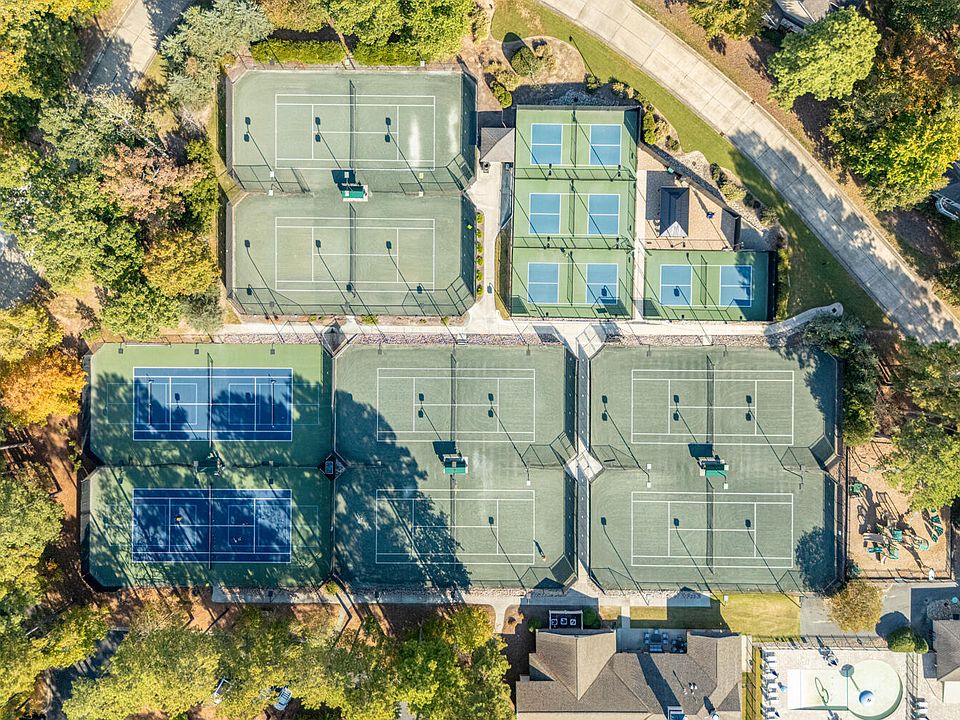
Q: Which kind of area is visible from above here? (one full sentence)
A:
What you see here is a sports ground.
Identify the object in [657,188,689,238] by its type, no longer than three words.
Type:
building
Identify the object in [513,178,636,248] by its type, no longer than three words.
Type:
sports court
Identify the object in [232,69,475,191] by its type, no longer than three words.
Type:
tennis court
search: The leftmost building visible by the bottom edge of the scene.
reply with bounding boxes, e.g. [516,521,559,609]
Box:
[517,624,741,720]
